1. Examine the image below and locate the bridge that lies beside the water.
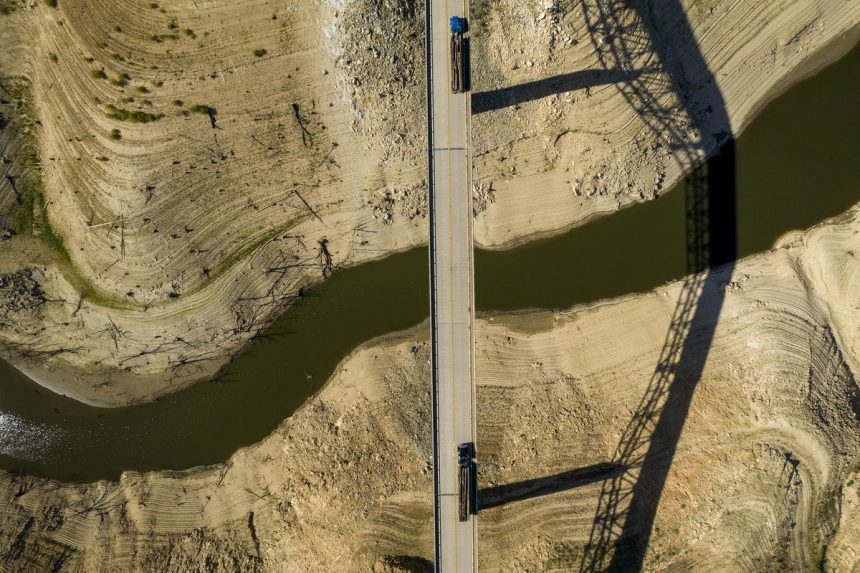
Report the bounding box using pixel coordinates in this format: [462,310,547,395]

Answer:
[425,0,480,573]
